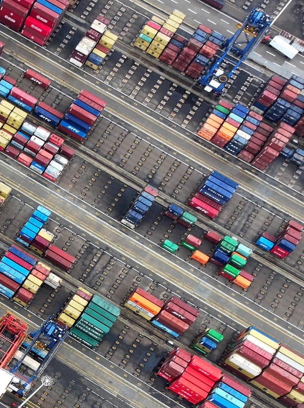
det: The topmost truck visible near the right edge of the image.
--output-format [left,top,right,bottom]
[257,36,296,60]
